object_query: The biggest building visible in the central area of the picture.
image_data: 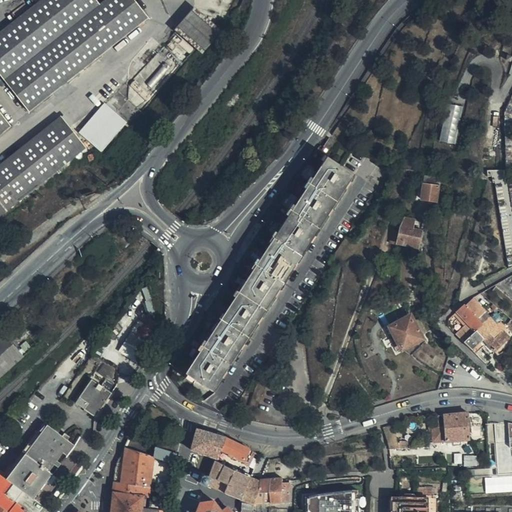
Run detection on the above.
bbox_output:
[186,157,355,392]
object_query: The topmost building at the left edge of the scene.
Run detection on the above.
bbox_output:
[0,0,148,113]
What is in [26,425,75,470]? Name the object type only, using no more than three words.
building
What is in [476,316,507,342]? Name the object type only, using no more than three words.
house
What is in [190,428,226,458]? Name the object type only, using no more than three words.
house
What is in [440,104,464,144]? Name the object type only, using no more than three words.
greenhouse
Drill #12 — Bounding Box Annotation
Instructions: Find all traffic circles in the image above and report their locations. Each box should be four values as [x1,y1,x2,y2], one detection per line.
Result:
[168,227,237,296]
